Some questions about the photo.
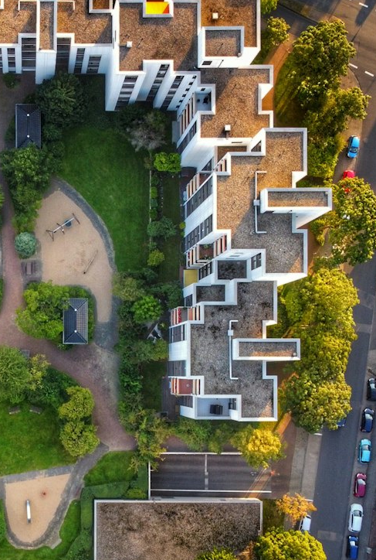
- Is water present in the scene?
No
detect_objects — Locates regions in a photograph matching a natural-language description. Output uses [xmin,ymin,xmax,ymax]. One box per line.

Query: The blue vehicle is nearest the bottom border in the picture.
[344,535,359,559]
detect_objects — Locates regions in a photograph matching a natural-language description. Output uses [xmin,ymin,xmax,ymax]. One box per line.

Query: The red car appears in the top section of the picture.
[341,164,356,189]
